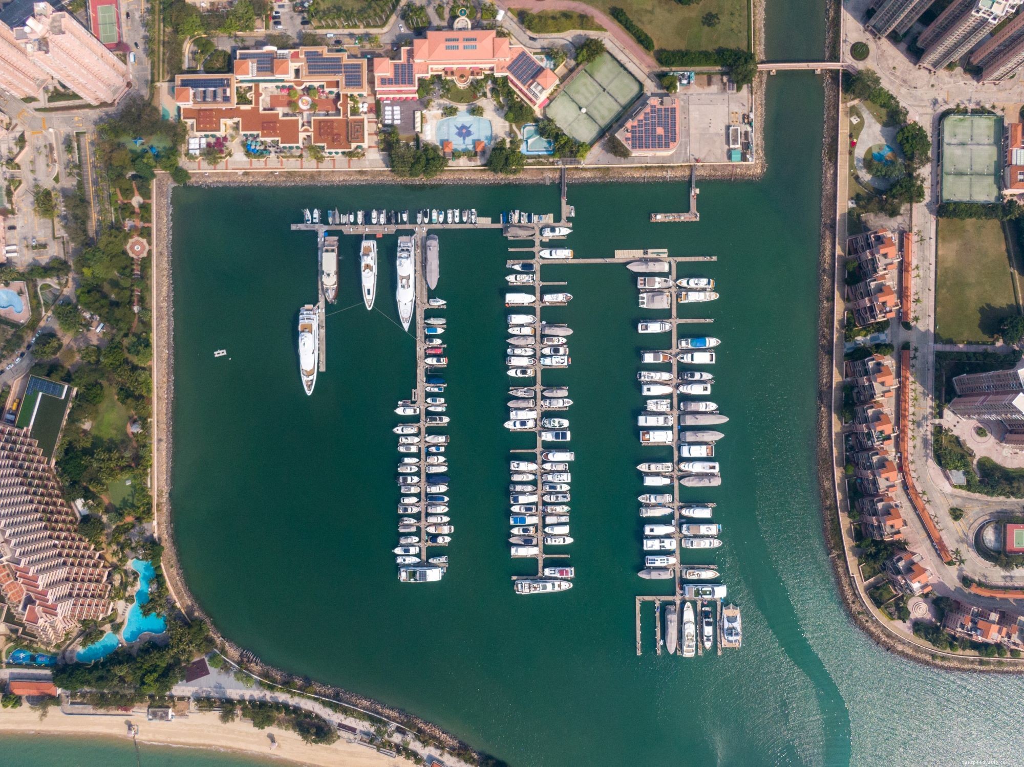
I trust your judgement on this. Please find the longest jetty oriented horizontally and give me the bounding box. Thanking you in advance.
[291,197,572,234]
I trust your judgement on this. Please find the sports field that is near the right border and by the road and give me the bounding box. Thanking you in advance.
[935,215,1017,342]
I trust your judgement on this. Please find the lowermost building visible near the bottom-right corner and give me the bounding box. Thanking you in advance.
[949,608,1024,653]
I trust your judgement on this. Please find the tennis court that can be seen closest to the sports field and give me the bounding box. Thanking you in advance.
[942,174,1003,201]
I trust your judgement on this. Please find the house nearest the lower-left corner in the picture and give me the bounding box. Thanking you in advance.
[9,679,60,697]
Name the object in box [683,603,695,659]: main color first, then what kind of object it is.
white boat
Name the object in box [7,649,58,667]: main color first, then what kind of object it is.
blue swimming pool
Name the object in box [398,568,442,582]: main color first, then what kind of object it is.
white boat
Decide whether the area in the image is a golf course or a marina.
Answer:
marina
